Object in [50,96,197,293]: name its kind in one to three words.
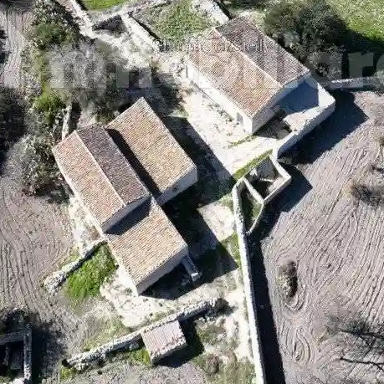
house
